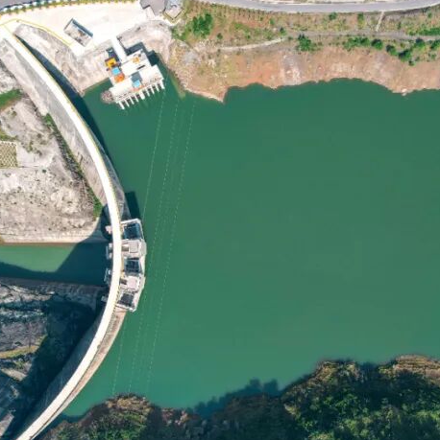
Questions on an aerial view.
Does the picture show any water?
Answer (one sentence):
Yes, water shows up in the scene.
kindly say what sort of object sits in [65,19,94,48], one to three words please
building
